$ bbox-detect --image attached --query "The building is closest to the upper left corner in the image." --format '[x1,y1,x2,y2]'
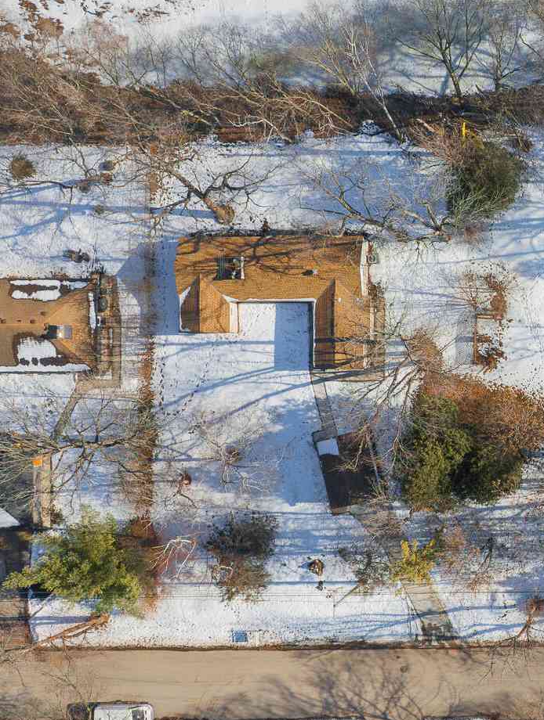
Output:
[0,278,101,376]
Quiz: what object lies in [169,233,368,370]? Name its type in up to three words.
house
